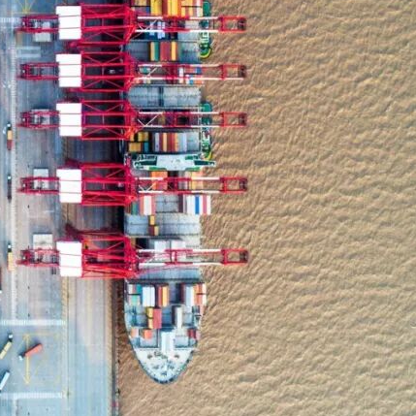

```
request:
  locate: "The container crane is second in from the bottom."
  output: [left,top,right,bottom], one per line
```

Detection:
[14,158,247,204]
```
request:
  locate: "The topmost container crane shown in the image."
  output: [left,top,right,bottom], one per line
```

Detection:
[13,3,246,51]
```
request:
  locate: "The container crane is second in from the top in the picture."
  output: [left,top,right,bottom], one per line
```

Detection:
[14,51,246,96]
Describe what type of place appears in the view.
port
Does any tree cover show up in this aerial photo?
No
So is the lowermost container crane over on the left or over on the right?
left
